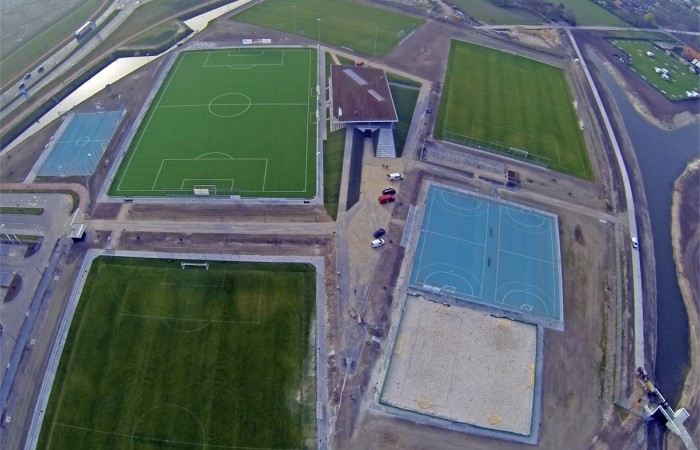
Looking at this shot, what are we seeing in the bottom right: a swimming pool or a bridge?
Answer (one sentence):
The one visible in the bottom right is a bridge.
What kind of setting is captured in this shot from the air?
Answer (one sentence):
What you see here is a sports ground.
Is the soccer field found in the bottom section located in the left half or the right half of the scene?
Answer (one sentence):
It is on the left.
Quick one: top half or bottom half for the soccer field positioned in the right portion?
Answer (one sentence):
Seen from above, the soccer field positioned in the right portion lies in the top half of the view.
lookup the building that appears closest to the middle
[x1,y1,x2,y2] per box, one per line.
[321,64,399,143]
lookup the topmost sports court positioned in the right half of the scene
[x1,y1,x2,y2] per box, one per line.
[397,181,563,331]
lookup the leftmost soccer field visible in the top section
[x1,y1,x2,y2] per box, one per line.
[94,47,324,203]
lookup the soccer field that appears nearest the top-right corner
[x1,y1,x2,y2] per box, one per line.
[433,38,595,183]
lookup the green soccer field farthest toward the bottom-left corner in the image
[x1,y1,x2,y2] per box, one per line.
[29,248,330,450]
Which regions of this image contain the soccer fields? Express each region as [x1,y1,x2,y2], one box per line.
[433,38,595,183]
[94,47,324,203]
[29,248,330,450]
